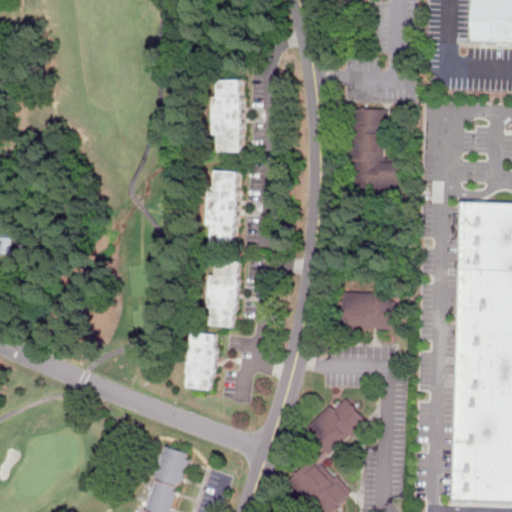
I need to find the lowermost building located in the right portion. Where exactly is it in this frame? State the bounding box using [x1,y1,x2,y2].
[292,464,352,512]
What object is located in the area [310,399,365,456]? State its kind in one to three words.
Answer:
house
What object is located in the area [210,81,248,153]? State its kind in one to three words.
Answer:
building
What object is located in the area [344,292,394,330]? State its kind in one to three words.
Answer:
house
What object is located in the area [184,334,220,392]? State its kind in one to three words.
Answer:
building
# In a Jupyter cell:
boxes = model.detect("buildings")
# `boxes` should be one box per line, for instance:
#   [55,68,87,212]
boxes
[469,0,512,42]
[205,262,243,328]
[184,334,220,392]
[452,204,512,502]
[352,108,400,187]
[344,292,394,330]
[210,81,248,153]
[204,170,244,240]
[310,399,365,456]
[292,464,352,512]
[0,238,12,255]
